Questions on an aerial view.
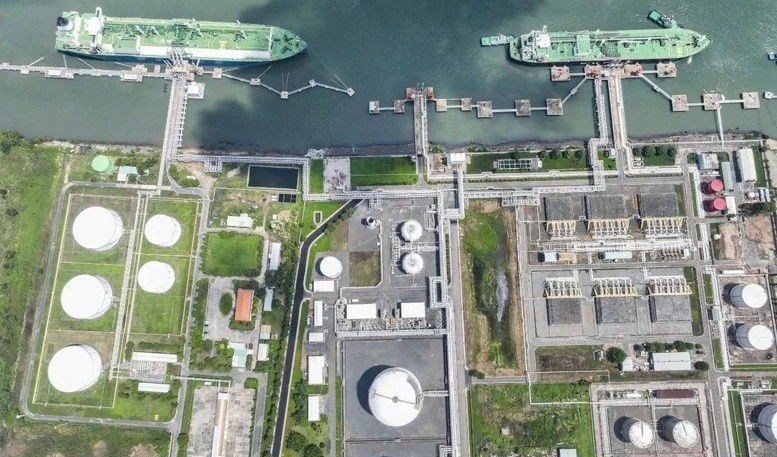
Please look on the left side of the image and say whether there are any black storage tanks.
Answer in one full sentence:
No, no black storage tank is visible on the left side of the image.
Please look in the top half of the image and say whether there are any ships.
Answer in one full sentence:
Yes, a ship can be seen in the top half of the image.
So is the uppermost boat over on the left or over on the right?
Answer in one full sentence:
You can find the uppermost boat on the right side of the picture.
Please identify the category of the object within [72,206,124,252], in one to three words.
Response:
storage tank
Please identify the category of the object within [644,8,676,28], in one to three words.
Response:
boat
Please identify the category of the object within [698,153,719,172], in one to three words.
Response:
building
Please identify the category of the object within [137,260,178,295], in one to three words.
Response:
storage tank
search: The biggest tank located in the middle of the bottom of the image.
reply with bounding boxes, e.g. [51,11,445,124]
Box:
[368,365,423,426]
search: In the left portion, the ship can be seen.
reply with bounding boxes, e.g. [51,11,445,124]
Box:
[55,9,307,68]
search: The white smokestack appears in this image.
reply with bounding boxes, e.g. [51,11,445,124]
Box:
[366,218,383,245]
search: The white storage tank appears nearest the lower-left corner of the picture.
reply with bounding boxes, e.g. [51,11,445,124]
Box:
[46,343,103,393]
